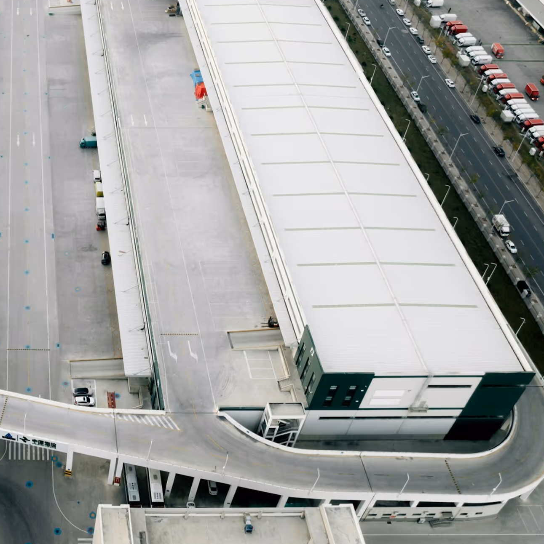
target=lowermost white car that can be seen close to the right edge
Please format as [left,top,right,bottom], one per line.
[504,240,518,253]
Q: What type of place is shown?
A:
industrial area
